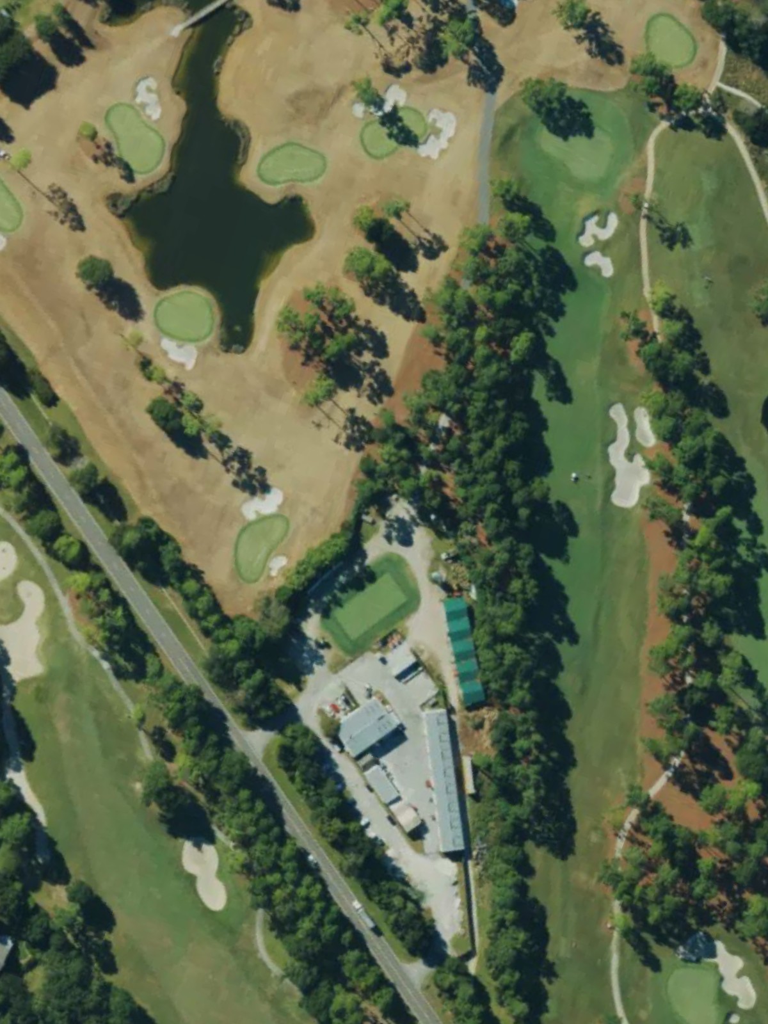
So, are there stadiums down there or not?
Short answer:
No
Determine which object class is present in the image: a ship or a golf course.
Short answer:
golf course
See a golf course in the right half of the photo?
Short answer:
Yes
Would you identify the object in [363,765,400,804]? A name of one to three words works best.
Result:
shed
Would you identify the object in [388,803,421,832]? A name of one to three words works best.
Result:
shed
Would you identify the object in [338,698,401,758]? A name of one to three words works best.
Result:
building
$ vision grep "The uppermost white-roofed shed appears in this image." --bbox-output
[386,645,417,677]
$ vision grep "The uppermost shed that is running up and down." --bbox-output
[442,598,485,705]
